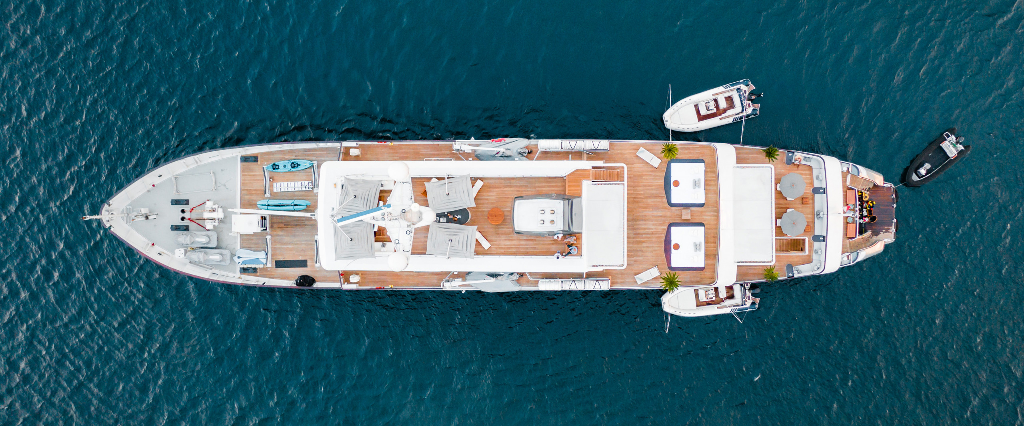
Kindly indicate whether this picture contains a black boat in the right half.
Yes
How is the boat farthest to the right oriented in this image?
at an angle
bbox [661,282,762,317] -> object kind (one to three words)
boat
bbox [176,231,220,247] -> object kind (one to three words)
boat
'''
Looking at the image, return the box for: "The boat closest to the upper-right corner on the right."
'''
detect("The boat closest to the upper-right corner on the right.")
[904,129,970,188]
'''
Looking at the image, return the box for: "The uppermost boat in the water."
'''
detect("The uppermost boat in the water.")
[662,78,764,132]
